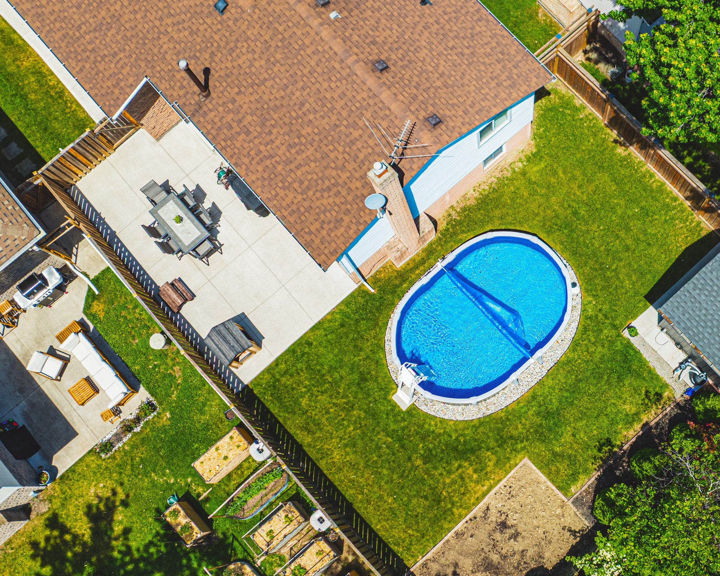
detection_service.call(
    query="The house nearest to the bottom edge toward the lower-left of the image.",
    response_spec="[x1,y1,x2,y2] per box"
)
[0,432,47,547]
